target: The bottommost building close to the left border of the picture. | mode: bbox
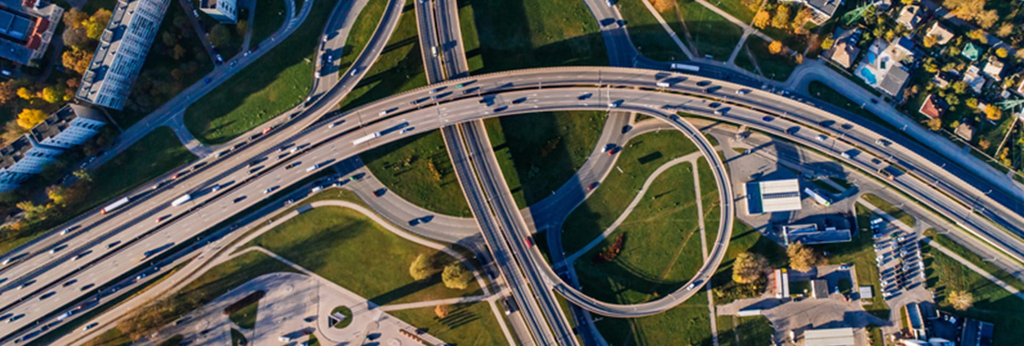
[0,135,64,187]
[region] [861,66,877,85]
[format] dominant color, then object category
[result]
blue swimming pool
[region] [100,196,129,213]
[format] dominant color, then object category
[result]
white vehicle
